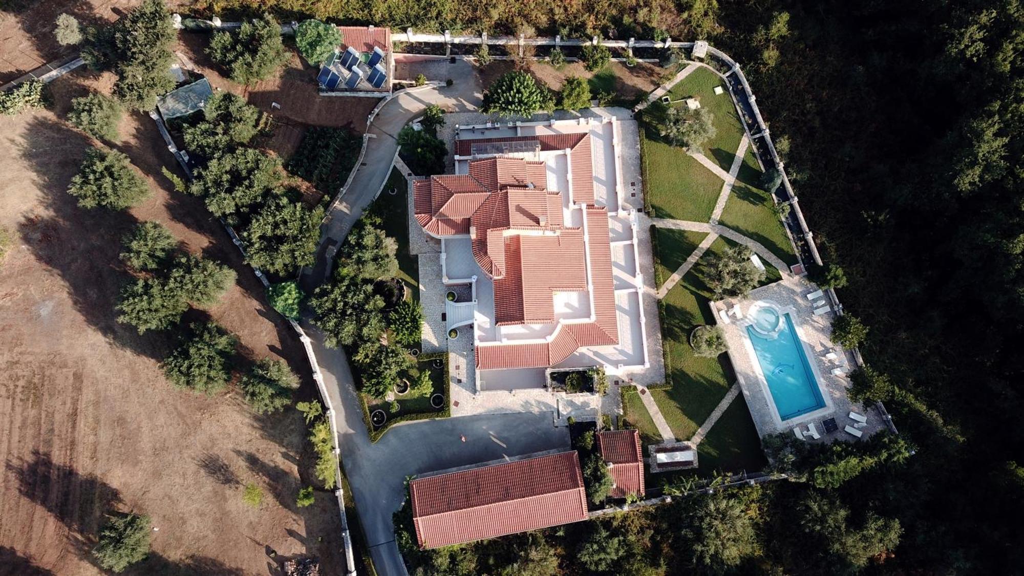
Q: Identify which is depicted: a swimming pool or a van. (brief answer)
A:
swimming pool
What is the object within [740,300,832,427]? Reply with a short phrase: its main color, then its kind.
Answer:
blue swimming pool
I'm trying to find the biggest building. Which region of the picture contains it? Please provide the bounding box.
[413,116,649,394]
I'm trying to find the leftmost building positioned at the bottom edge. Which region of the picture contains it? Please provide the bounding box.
[409,451,589,549]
